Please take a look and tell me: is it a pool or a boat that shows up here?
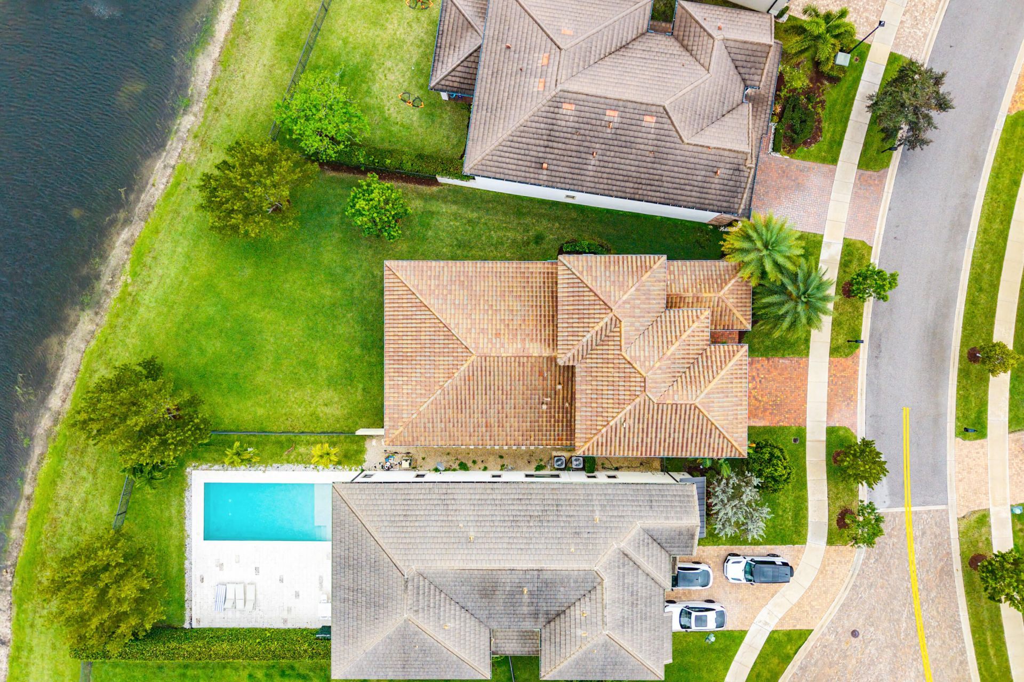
pool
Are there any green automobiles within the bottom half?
No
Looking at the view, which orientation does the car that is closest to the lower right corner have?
from side to side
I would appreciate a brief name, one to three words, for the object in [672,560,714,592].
car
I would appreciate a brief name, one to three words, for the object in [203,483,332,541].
swimming pool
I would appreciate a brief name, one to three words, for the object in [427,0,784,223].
house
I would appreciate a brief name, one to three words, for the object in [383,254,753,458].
house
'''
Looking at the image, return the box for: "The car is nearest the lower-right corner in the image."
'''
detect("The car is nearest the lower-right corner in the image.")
[723,551,796,587]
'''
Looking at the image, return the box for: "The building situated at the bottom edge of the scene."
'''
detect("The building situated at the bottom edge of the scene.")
[330,464,707,682]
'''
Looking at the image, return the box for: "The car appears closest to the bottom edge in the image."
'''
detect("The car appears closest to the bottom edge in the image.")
[666,599,728,635]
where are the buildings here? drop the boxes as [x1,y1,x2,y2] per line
[427,0,784,223]
[383,254,753,458]
[330,464,707,682]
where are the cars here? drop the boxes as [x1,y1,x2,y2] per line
[672,560,714,592]
[666,599,728,635]
[723,551,796,587]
